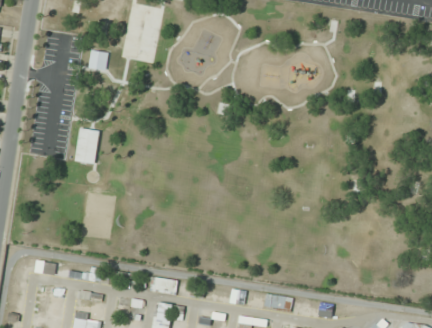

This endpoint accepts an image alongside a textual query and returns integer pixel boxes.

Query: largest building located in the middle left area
[75,128,100,164]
